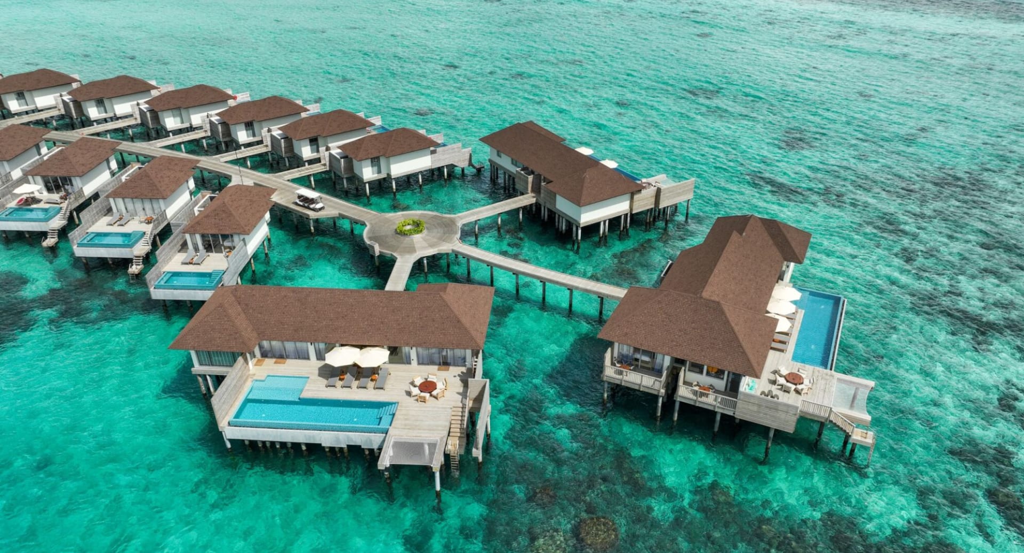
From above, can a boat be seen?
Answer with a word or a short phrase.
No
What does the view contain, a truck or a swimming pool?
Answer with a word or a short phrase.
swimming pool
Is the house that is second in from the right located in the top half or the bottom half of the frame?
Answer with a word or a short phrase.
top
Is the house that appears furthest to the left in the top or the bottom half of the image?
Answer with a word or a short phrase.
bottom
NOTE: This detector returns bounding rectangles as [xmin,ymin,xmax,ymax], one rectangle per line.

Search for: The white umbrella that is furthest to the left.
[16,182,43,204]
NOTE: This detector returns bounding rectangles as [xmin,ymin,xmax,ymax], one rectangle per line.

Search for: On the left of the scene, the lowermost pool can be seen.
[228,376,398,436]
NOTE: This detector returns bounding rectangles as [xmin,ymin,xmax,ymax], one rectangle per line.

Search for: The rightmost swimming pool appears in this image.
[789,286,841,370]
